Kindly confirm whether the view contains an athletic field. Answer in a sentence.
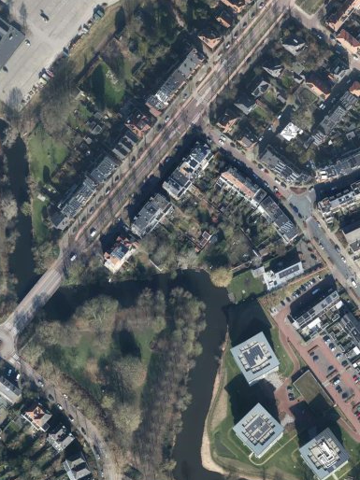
No, the frame has no athletic field in it.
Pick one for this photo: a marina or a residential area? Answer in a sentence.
This image shows a residential area.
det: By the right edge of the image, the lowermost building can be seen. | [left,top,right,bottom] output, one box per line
[298,427,349,480]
